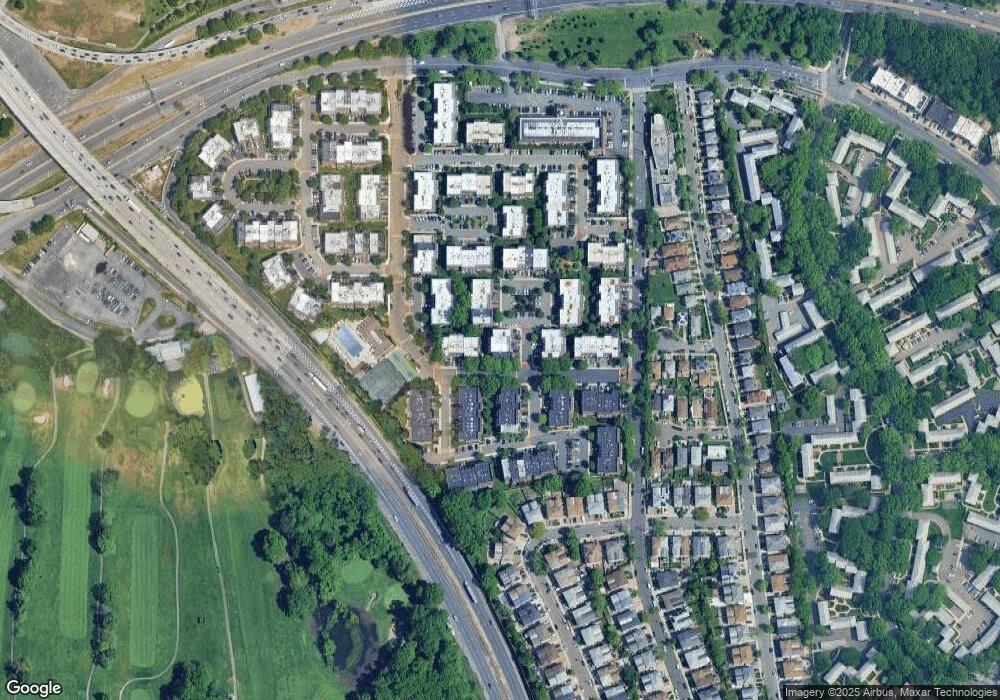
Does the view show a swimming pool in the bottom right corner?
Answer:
No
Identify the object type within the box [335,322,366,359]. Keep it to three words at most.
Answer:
swimming pool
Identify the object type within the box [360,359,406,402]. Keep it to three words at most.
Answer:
sports court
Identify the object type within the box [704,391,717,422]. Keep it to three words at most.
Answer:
house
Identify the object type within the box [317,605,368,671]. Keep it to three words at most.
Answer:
pond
